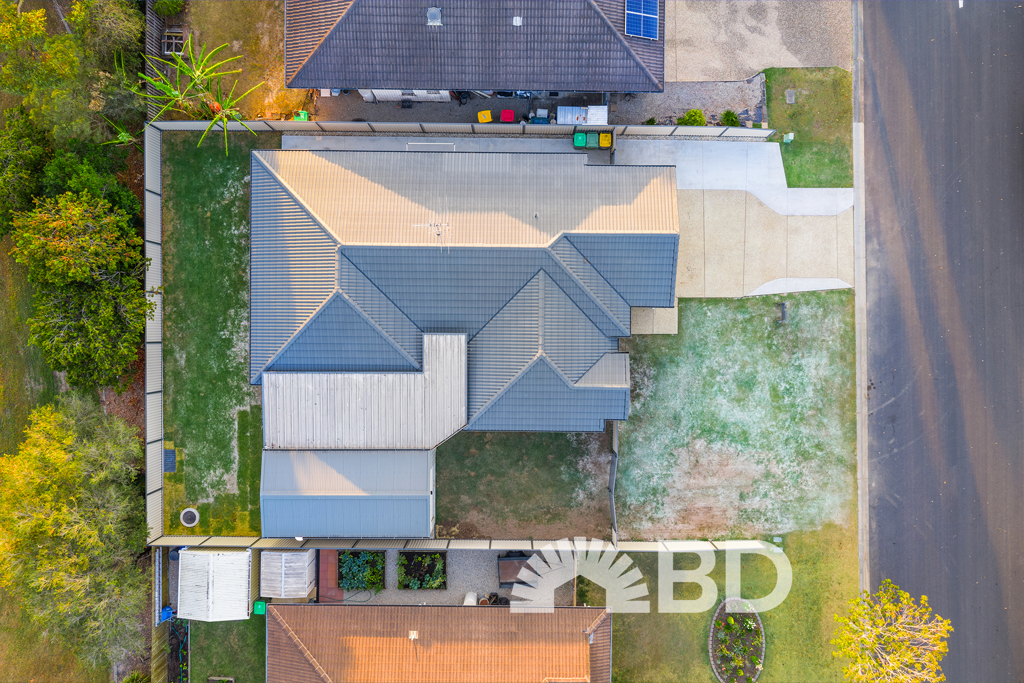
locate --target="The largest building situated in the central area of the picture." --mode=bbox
[248,148,681,434]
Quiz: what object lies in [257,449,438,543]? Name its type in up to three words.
shed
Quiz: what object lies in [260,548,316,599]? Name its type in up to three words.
shed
